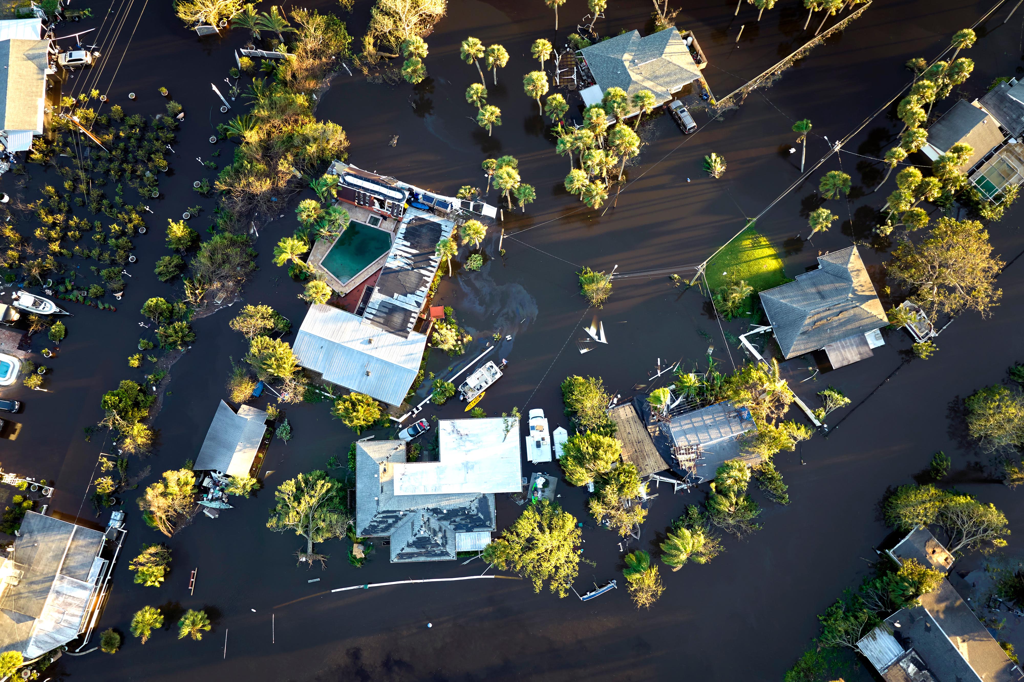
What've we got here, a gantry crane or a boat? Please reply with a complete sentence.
The image shows a boat.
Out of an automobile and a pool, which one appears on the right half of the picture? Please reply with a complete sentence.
The one visible on the right half of the picture is an automobile.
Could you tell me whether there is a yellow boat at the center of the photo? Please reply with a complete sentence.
Yes, a yellow boat shows up at the center of the photo.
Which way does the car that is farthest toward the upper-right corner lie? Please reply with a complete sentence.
The car that is farthest toward the upper-right corner is oriented on a diagonal.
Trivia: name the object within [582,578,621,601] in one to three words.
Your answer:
boat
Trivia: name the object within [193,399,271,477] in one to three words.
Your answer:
house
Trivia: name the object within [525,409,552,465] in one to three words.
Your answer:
camper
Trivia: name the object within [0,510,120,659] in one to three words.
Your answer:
house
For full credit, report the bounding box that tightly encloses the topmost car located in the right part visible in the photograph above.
[667,101,697,135]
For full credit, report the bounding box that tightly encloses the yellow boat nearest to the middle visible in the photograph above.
[465,392,485,412]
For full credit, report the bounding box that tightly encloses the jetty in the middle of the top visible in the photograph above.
[552,53,577,86]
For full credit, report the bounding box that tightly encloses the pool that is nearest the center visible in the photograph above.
[307,200,402,296]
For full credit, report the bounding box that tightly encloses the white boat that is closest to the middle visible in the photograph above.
[458,356,504,402]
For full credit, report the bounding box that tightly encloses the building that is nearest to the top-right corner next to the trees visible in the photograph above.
[971,77,1024,145]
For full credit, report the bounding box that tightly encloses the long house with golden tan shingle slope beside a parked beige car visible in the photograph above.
[0,18,61,158]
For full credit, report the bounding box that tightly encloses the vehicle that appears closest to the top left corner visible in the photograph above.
[61,50,95,66]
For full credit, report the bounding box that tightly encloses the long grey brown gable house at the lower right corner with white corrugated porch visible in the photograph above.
[850,577,1024,682]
